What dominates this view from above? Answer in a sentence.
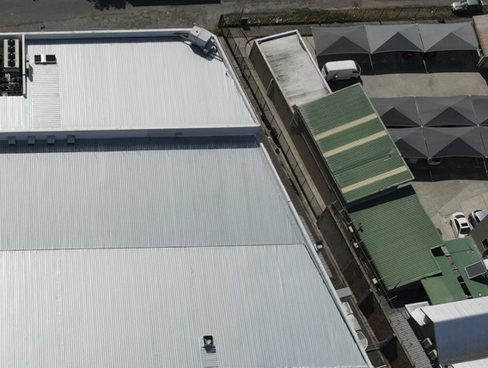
The scene is dominated by buildings.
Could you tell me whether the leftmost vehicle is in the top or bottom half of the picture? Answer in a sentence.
The top half of the photo is where the leftmost vehicle is.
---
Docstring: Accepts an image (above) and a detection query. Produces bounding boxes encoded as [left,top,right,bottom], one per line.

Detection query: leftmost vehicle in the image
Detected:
[320,61,357,82]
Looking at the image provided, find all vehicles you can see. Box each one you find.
[424,142,442,168]
[401,52,415,61]
[463,207,486,228]
[444,211,471,239]
[320,61,357,82]
[449,1,483,16]
[424,46,442,61]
